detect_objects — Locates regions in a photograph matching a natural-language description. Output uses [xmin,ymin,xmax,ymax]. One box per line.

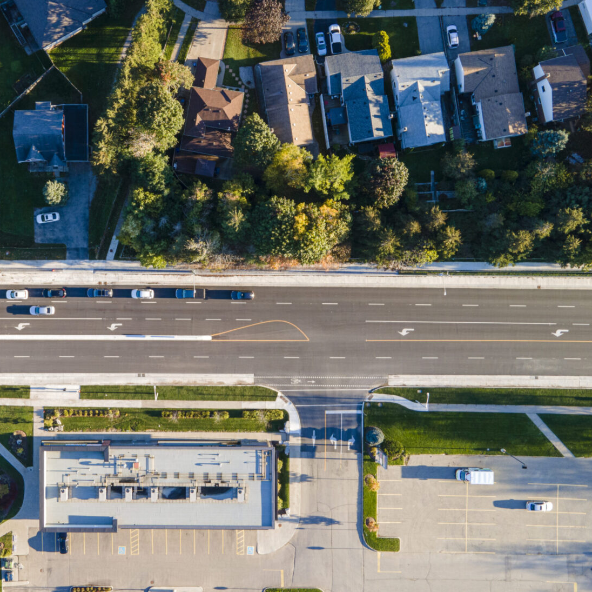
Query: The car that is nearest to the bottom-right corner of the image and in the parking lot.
[526,500,551,512]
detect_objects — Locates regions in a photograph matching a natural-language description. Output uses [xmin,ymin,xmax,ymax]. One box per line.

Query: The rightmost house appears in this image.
[527,51,592,121]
